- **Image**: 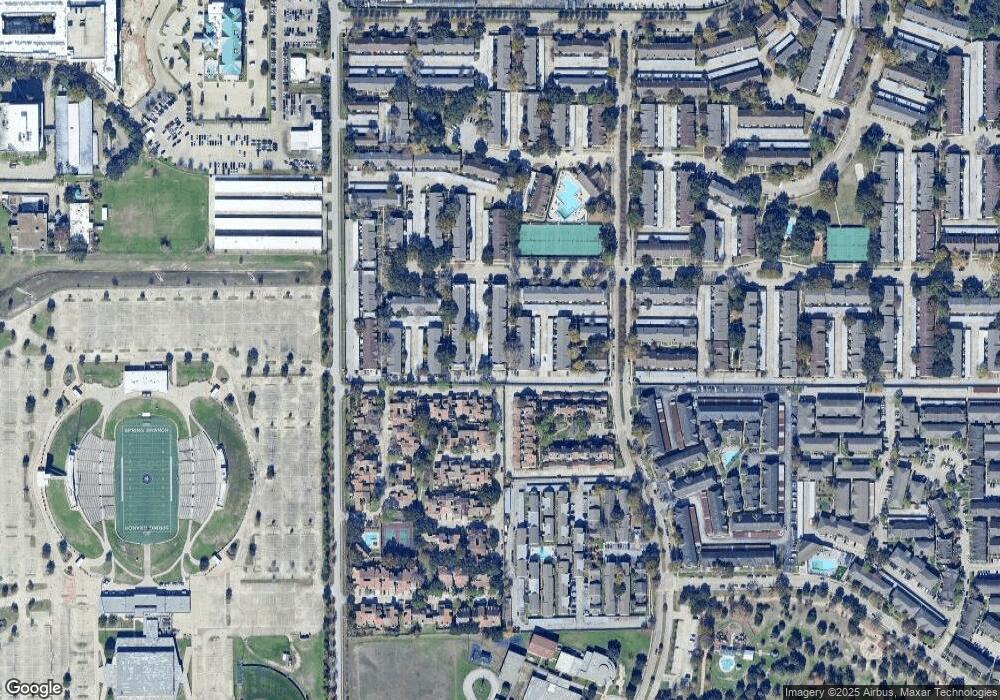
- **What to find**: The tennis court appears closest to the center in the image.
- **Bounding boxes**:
[519,224,602,256]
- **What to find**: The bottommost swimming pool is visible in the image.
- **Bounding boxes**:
[719,656,735,672]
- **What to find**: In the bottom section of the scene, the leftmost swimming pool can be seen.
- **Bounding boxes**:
[363,531,379,549]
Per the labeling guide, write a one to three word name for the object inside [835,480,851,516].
building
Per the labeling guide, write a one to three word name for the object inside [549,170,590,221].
swimming pool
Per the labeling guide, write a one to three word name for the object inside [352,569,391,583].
house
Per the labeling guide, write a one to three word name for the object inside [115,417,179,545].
sports field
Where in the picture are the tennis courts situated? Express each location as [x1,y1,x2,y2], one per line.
[826,226,868,262]
[519,224,602,256]
[382,523,413,557]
